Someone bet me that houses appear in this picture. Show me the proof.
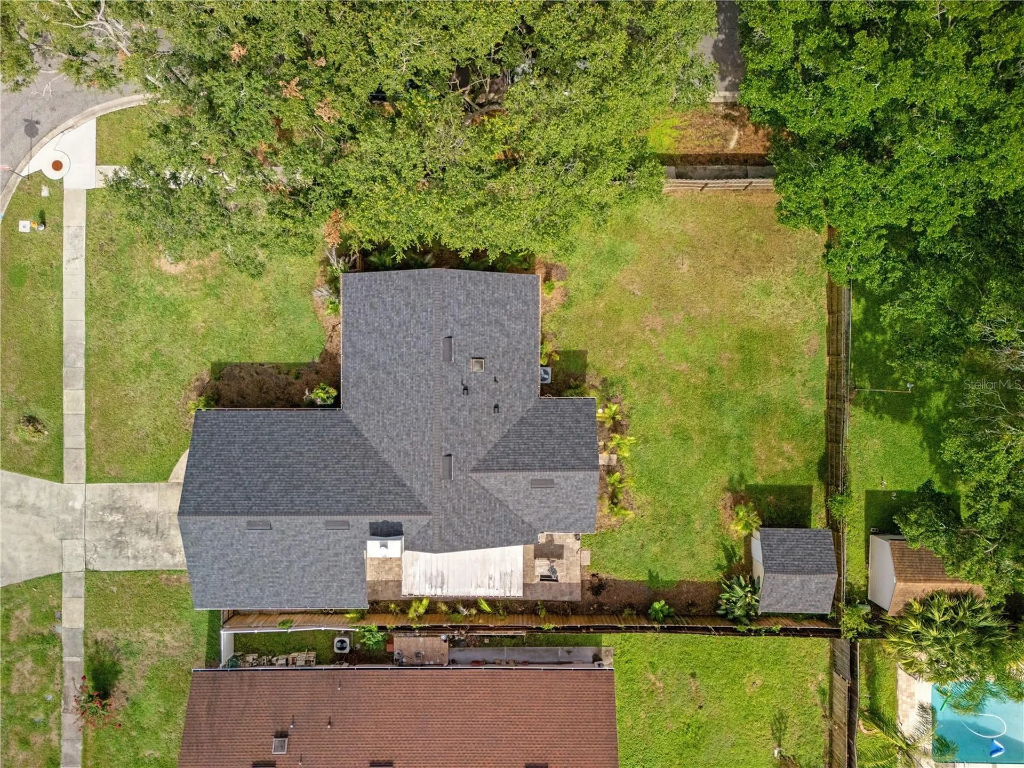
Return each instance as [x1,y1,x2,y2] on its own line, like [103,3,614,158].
[177,665,619,768]
[176,267,600,610]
